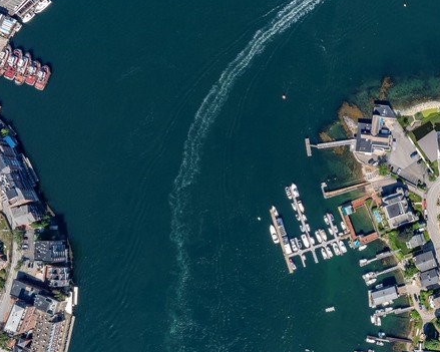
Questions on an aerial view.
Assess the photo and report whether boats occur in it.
Yes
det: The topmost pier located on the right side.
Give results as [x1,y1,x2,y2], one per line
[305,138,356,157]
